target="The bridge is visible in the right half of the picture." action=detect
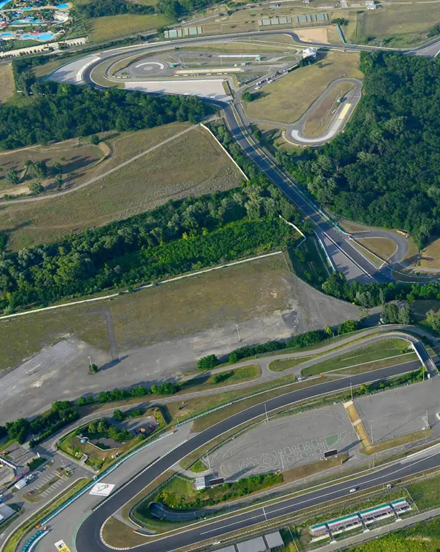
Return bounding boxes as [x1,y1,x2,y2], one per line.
[402,334,440,376]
